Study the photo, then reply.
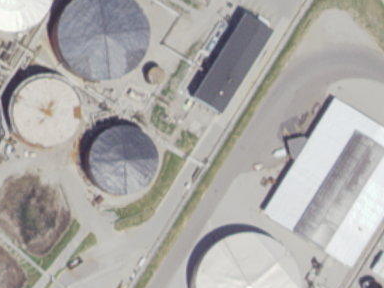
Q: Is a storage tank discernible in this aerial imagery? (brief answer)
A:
Yes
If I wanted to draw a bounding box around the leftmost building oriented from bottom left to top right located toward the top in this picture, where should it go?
[190,10,272,114]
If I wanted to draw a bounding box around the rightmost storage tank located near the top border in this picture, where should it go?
[52,0,152,84]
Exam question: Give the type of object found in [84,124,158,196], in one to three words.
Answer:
storage tank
